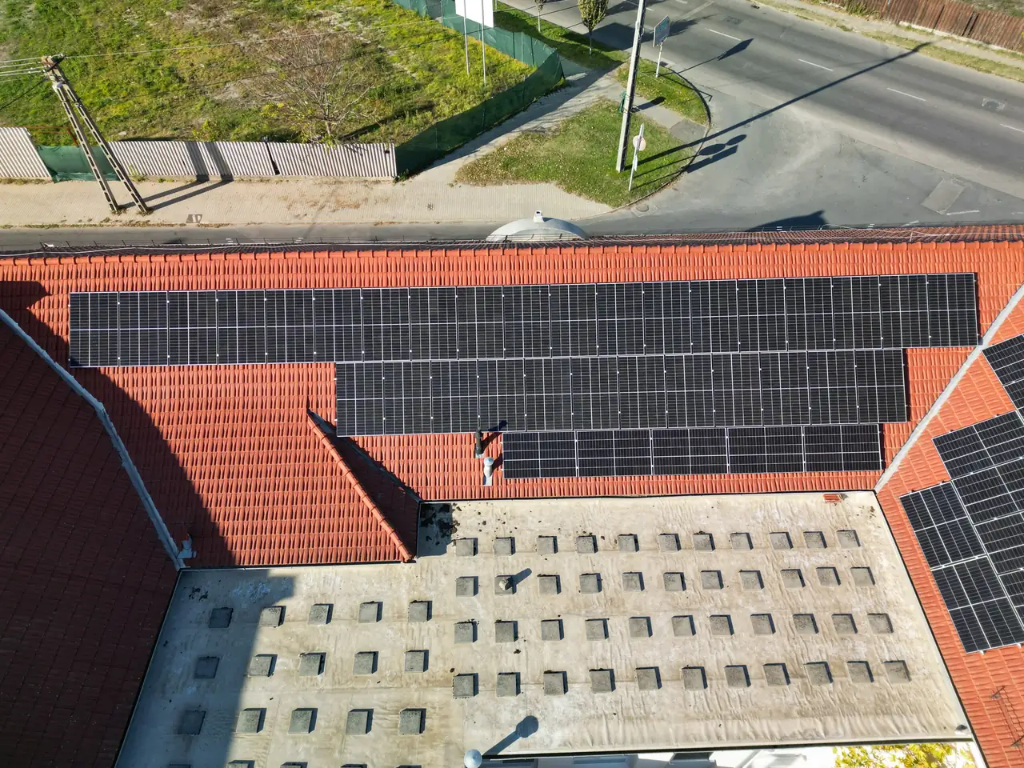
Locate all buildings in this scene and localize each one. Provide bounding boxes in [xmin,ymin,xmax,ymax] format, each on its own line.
[0,209,1024,768]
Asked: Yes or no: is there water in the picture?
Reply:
No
